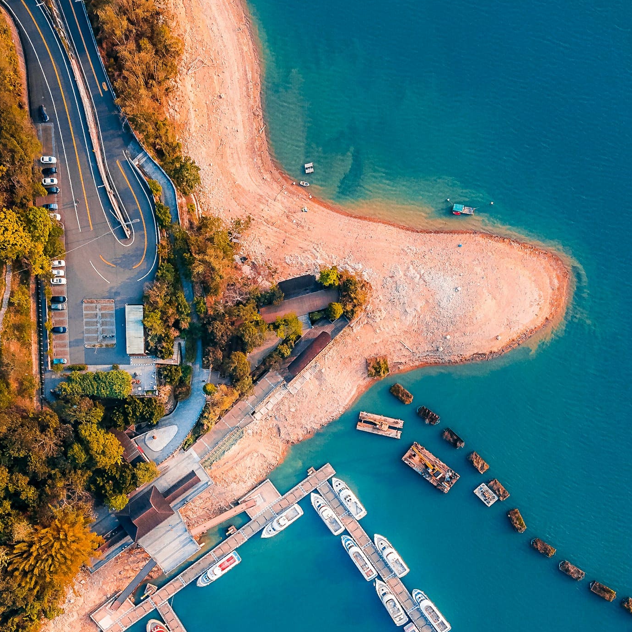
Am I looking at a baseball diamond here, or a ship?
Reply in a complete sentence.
This aerial view contains a ship.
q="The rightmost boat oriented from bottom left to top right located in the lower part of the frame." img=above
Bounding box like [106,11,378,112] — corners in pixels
[262,505,303,538]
